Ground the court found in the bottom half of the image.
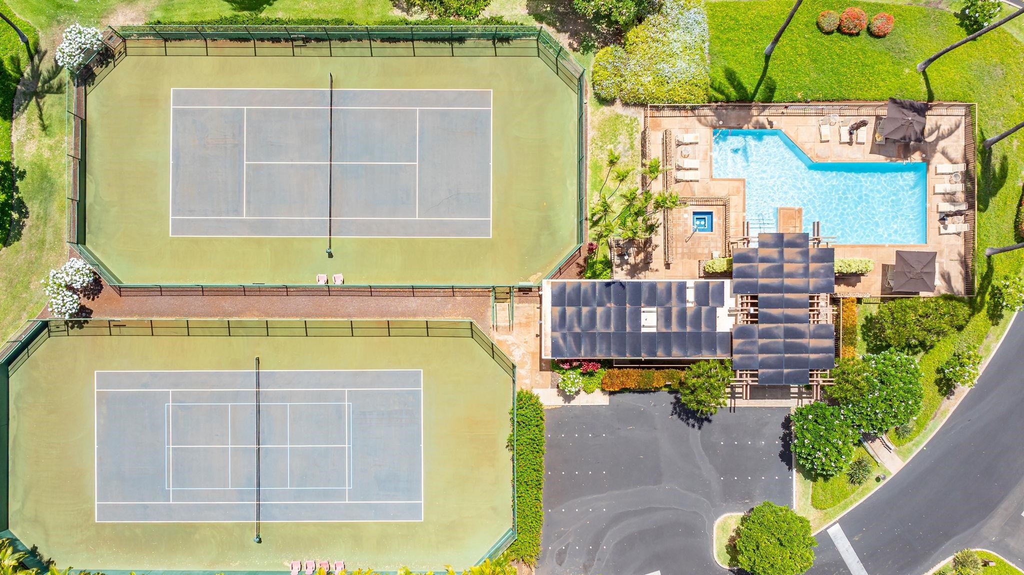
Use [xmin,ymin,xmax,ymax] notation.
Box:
[8,321,512,570]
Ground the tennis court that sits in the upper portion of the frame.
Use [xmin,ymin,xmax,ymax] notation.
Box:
[85,39,578,284]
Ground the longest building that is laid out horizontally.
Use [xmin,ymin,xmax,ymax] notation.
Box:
[539,280,733,361]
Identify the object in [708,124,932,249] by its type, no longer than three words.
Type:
swimming pool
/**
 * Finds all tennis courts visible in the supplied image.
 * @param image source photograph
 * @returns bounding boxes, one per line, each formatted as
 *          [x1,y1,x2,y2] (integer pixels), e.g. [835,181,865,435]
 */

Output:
[85,39,578,284]
[8,321,512,570]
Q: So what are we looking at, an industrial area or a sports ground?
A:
sports ground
